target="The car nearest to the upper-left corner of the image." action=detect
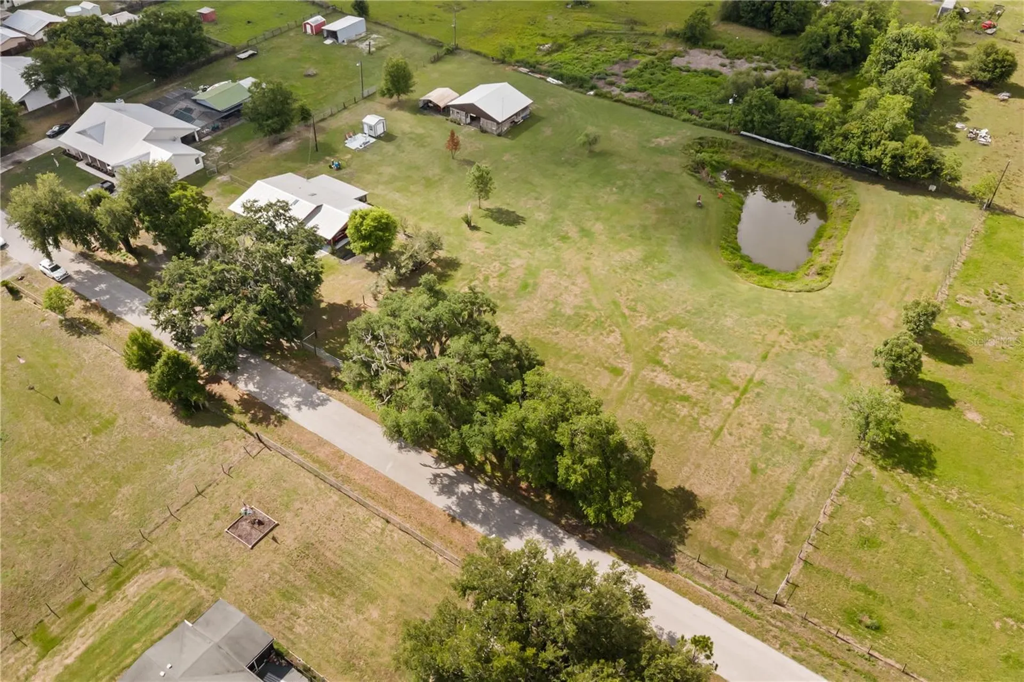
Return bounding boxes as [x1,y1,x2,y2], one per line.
[43,124,72,139]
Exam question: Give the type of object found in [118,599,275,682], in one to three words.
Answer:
house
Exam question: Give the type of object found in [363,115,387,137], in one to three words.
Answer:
shed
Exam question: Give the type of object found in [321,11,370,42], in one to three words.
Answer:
shed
